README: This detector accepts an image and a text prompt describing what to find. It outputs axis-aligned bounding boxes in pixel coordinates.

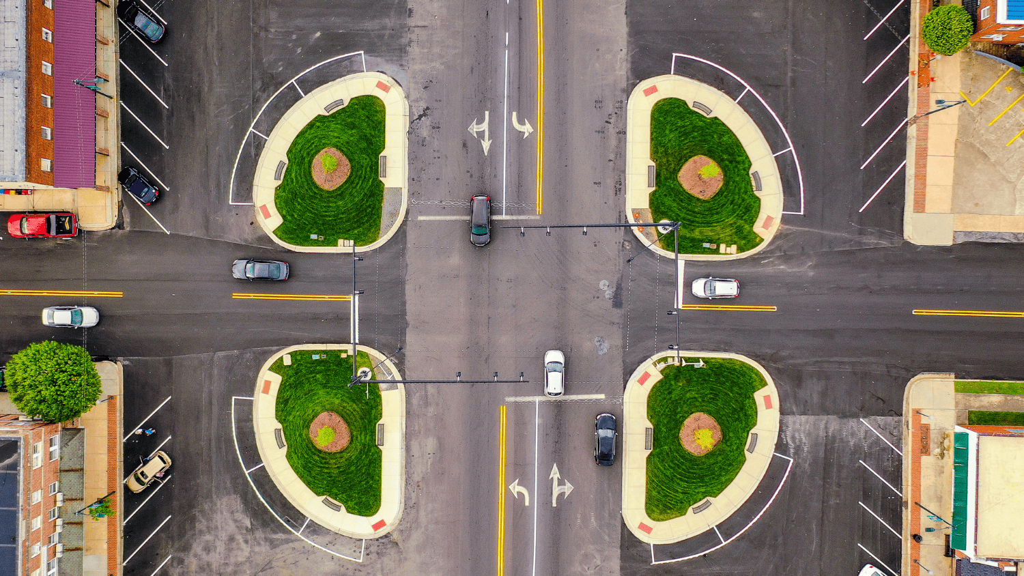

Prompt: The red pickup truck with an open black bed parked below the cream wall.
[10,211,80,238]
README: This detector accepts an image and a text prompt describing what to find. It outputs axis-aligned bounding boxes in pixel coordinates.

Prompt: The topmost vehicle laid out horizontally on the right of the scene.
[690,275,740,300]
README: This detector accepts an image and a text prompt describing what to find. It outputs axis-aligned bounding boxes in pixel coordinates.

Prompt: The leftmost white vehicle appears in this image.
[43,304,102,329]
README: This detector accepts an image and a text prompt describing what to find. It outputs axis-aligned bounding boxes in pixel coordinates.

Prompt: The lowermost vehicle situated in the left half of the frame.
[125,448,176,494]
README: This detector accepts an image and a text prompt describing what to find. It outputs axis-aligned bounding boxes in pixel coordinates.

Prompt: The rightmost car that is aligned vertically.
[593,413,618,466]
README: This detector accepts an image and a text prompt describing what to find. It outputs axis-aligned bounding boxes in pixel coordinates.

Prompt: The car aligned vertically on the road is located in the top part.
[468,194,493,246]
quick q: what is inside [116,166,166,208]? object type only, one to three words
car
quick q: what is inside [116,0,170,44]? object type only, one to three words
car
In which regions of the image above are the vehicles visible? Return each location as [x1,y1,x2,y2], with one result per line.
[690,275,740,300]
[593,413,618,466]
[10,211,80,238]
[468,194,493,246]
[116,166,166,208]
[856,563,885,576]
[233,256,291,282]
[43,304,102,329]
[125,448,176,494]
[116,0,170,44]
[542,349,567,398]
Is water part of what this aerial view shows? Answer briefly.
No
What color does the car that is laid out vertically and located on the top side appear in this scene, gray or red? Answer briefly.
gray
